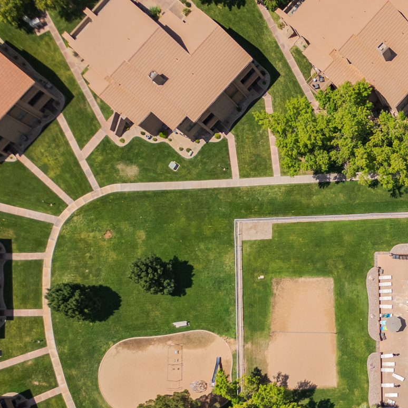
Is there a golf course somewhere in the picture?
No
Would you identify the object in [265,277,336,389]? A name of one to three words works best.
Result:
sports court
